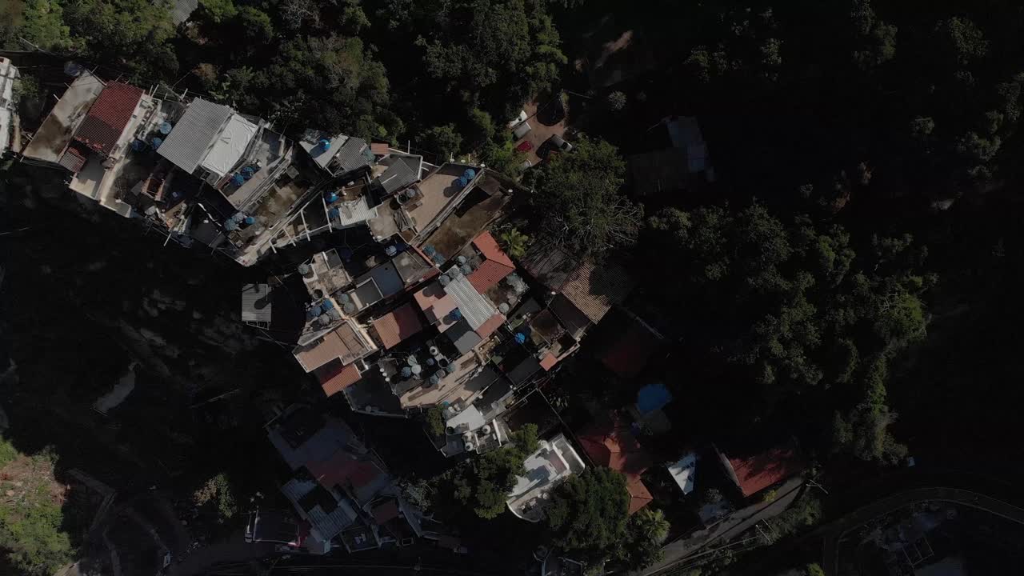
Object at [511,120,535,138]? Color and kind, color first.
gray vehicle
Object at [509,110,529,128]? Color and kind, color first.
white car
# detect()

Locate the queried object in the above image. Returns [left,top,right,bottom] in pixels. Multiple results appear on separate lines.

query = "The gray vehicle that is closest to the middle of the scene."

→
[517,158,536,172]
